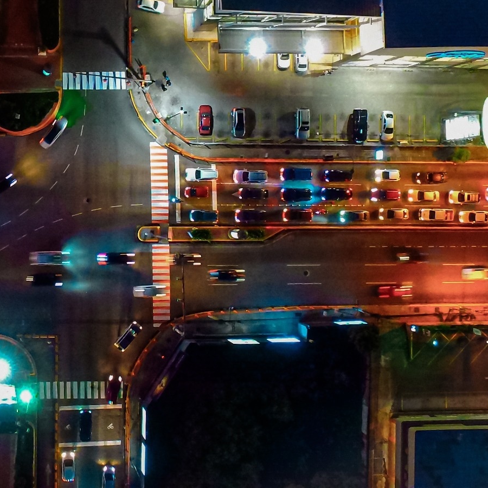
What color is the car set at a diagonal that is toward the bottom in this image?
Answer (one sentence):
The car set at a diagonal that is toward the bottom is black.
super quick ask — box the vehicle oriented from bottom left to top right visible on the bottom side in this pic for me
[113,320,142,353]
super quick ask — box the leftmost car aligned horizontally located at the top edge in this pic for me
[135,0,166,15]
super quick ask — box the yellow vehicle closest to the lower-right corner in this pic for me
[459,267,488,282]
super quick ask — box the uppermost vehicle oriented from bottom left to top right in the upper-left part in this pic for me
[41,118,66,149]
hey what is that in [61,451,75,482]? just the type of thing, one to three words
vehicle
